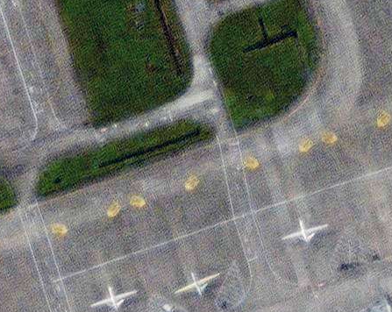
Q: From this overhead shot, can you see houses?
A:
No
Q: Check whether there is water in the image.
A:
No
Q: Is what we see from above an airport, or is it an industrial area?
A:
airport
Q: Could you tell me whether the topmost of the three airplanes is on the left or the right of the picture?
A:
right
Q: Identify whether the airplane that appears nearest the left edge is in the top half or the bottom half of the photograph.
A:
bottom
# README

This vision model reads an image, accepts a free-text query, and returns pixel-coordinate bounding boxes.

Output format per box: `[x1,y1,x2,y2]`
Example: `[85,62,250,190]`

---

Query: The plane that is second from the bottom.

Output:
[174,272,221,295]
